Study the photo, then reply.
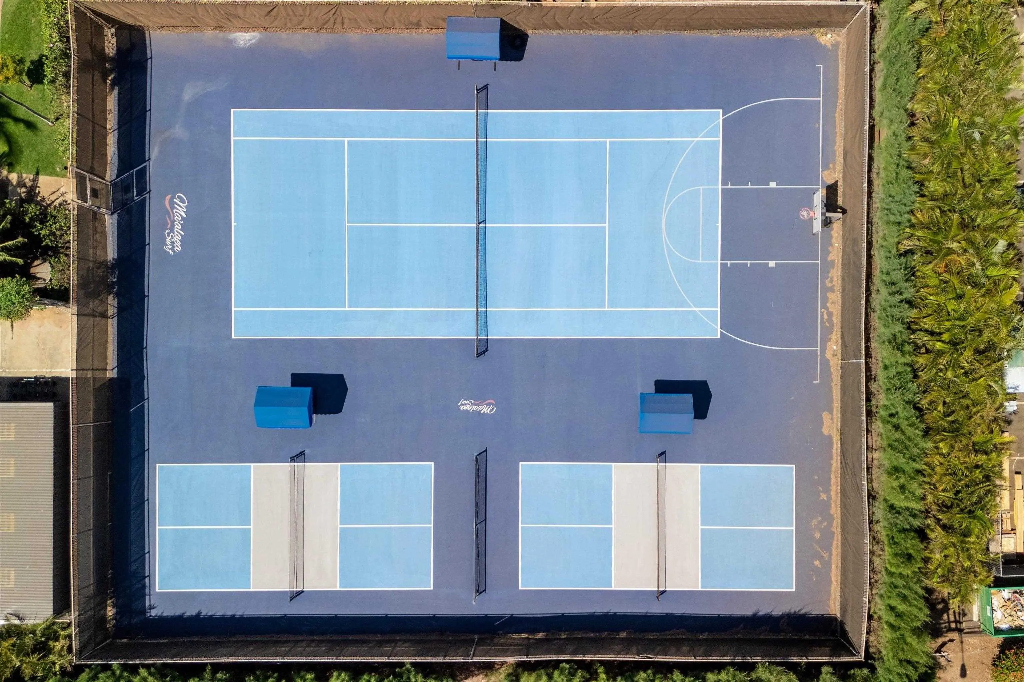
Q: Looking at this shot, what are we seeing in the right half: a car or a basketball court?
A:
basketball court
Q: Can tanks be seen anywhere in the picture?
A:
No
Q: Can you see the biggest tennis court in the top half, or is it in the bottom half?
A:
top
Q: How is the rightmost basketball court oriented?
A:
up and down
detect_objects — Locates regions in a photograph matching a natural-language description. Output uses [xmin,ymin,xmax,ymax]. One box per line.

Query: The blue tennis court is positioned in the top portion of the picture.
[231,109,722,339]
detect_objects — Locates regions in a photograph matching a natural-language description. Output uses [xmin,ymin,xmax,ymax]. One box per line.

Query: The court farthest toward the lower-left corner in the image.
[156,463,433,592]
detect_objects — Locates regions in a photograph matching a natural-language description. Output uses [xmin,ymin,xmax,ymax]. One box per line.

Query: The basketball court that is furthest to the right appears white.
[662,64,822,383]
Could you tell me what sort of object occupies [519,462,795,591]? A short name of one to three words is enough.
sports court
